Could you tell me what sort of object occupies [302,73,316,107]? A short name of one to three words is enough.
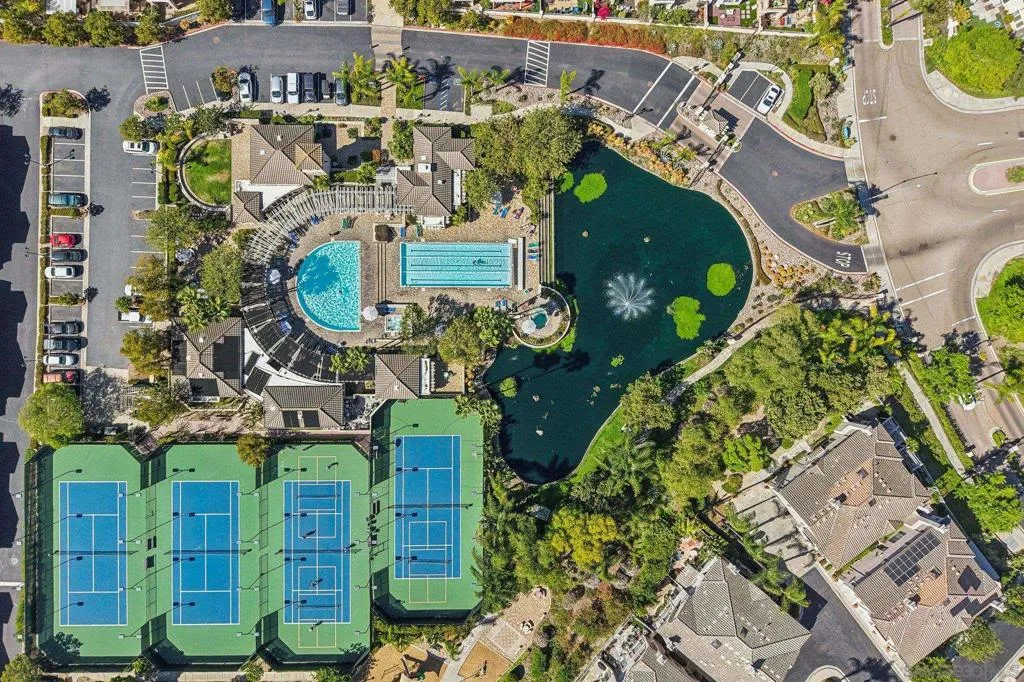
vehicle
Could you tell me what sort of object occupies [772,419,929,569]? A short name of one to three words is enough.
house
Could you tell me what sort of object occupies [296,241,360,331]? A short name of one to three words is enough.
swimming pool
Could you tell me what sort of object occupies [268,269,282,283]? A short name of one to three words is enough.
umbrella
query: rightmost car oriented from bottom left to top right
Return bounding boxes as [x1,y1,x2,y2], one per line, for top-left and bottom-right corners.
[757,86,780,115]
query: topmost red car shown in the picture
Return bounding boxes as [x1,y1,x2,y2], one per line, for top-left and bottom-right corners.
[50,234,81,247]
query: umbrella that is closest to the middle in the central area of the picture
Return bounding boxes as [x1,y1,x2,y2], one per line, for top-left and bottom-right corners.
[522,319,535,333]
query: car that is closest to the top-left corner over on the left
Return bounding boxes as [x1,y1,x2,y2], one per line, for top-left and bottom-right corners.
[52,126,83,140]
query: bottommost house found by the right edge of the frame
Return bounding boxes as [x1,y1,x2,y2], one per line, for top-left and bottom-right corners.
[841,510,1002,663]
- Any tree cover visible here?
Yes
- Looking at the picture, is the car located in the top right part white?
Yes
